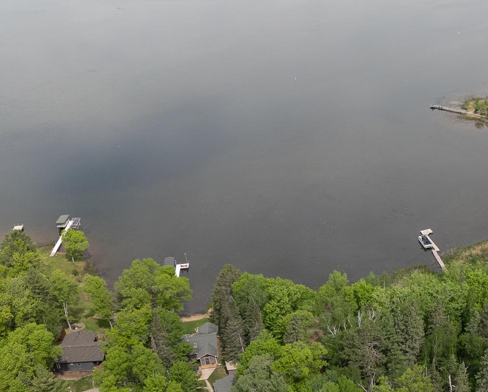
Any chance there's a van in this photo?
No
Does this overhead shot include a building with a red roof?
No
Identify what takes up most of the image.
water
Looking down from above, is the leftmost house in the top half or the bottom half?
bottom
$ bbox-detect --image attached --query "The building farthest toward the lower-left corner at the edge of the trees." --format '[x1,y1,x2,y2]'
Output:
[53,331,108,372]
